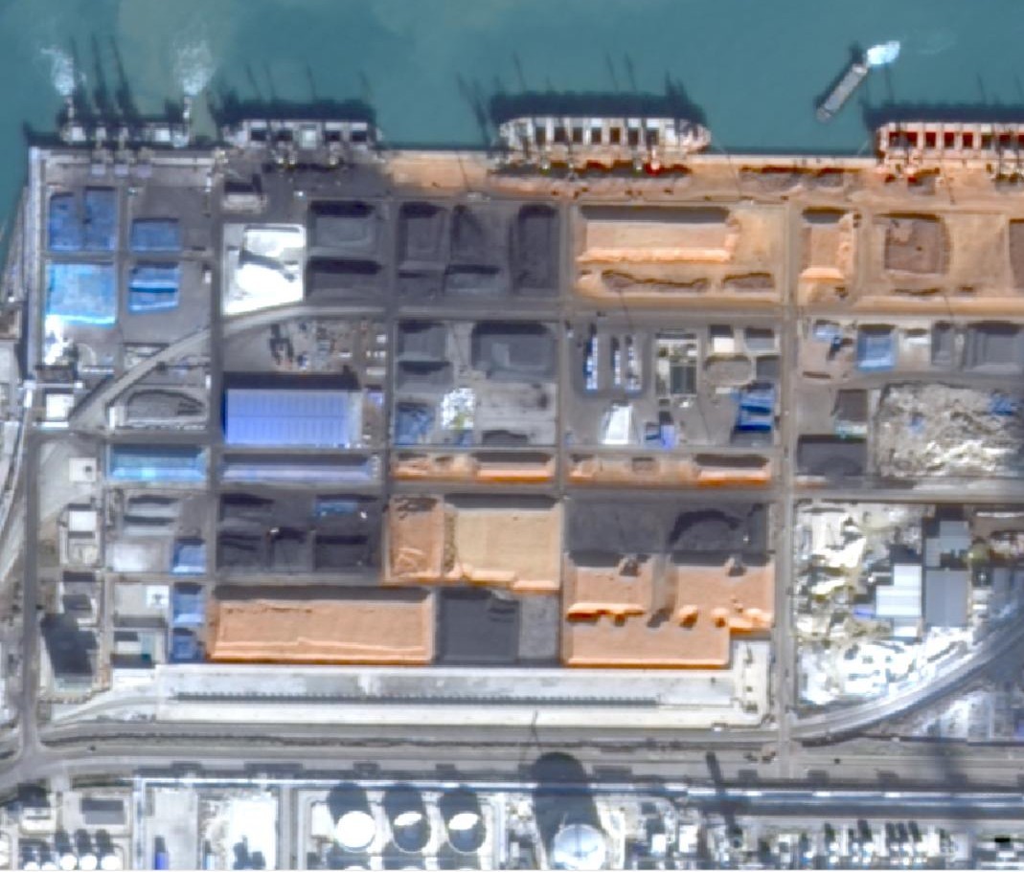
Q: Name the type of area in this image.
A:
port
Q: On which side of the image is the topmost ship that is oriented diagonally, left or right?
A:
right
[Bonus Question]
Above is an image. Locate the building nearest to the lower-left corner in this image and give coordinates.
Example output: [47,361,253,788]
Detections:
[23,810,55,832]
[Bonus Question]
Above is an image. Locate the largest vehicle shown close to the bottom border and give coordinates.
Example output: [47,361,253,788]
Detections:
[155,852,167,869]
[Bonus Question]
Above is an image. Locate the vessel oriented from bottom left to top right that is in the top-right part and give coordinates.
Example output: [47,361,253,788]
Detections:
[820,56,870,114]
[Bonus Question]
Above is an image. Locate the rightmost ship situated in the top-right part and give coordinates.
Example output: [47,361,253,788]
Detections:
[877,119,1024,154]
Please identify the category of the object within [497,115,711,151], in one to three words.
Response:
ship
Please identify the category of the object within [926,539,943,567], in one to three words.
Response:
building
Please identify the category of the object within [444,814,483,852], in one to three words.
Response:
storage tank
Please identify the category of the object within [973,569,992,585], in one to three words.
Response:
house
